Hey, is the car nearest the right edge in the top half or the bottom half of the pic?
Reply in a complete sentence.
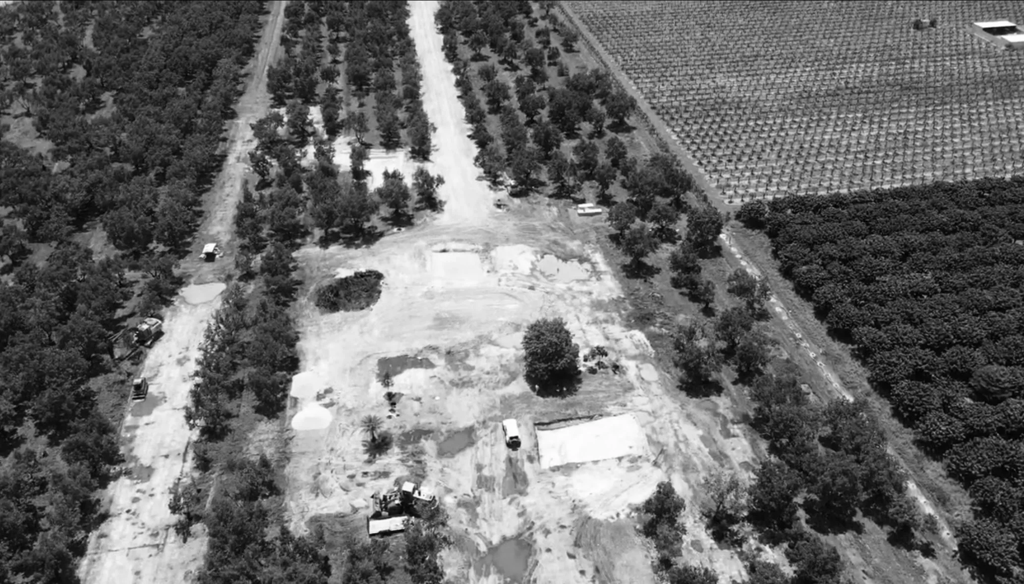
Seen from above, the car nearest the right edge lies in the bottom half of the view.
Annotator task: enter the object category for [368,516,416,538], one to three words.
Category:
trailer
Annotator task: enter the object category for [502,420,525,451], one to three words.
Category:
car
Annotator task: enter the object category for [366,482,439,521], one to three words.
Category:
work vehicle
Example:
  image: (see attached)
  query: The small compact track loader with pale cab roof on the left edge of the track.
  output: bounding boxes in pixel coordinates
[130,379,150,407]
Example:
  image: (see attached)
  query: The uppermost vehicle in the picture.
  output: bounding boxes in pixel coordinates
[110,320,171,361]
